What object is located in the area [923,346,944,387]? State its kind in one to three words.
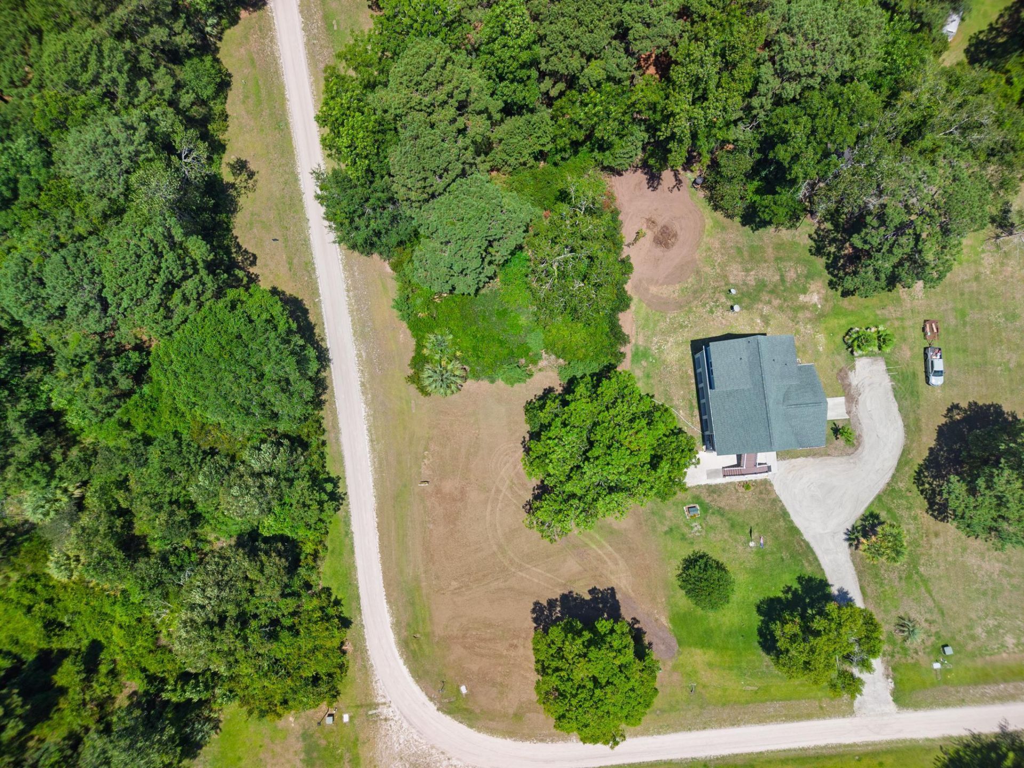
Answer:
truck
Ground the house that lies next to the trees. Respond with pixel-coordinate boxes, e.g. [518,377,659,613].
[695,334,828,455]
